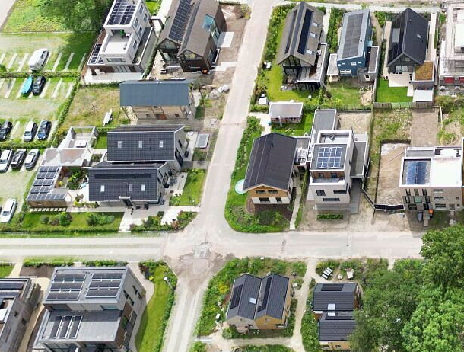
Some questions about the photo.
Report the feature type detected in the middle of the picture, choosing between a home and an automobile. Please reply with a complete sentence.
The one visible in the middle of the picture is a home.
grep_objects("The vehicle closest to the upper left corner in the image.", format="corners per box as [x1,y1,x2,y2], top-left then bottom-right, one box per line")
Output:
[30,46,49,71]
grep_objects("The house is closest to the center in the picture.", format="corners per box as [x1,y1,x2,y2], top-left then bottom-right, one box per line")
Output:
[240,130,309,202]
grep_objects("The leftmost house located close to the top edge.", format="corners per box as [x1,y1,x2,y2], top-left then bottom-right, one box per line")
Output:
[92,0,158,75]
